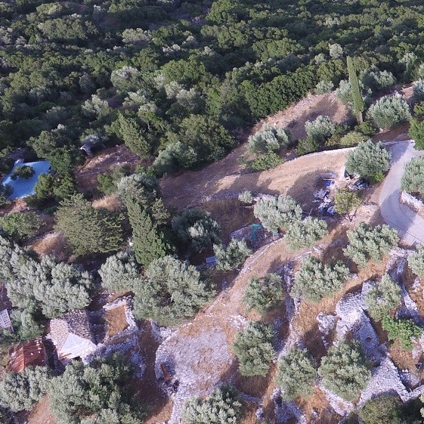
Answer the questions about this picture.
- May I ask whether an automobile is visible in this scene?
No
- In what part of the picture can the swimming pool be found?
left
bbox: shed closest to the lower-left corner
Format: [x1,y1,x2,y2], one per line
[7,340,52,379]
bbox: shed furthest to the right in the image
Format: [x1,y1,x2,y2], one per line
[50,309,107,363]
